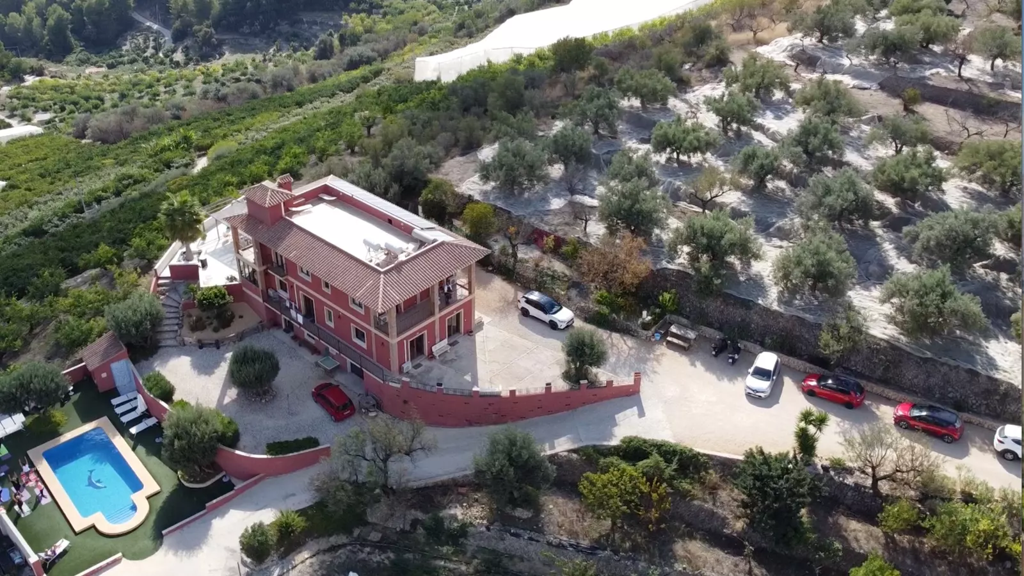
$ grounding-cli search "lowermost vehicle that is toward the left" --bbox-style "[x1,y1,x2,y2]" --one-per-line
[311,382,357,422]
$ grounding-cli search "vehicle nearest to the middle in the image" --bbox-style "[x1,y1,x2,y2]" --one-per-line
[517,287,578,329]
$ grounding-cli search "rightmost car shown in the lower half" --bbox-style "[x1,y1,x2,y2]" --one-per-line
[997,420,1024,458]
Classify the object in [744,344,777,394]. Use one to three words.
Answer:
car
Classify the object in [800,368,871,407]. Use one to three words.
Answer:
car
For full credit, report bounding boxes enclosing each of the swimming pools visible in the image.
[27,421,159,536]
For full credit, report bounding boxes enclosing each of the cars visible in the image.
[800,368,871,407]
[890,397,970,440]
[311,382,357,422]
[744,344,777,394]
[997,420,1024,458]
[517,287,578,329]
